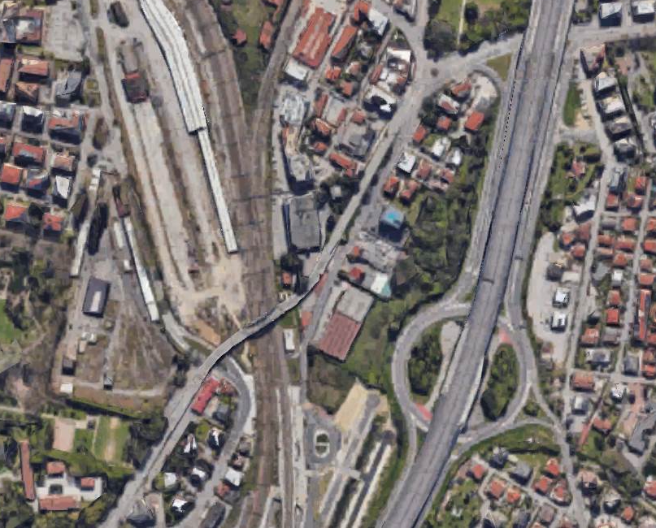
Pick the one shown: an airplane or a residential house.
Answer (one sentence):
Looking from above, you can make out a residential house.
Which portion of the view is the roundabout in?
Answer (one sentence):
You can find the roundabout in the bottom right area of the picture.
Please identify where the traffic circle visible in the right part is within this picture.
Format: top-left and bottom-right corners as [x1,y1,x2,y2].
[389,249,566,528]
